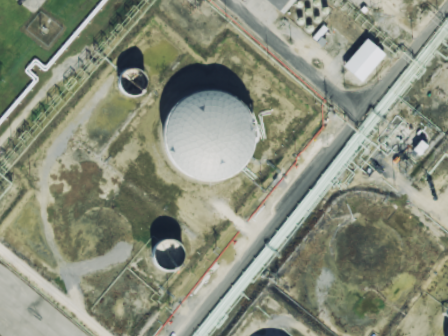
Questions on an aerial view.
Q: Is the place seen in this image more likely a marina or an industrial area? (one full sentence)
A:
It's an industrial area.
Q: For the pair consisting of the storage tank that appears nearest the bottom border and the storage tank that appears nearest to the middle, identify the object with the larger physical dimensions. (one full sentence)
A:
Compared with the storage tank that appears nearest the bottom border, the storage tank that appears nearest to the middle is the larger one.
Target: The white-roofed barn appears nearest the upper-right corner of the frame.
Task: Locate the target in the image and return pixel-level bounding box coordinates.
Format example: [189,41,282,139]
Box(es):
[344,38,387,82]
